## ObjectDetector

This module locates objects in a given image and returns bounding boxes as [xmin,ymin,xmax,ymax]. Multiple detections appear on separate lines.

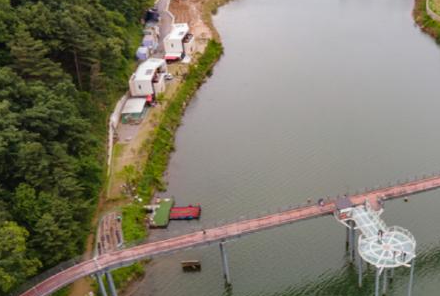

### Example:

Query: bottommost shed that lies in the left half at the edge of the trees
[118,97,148,123]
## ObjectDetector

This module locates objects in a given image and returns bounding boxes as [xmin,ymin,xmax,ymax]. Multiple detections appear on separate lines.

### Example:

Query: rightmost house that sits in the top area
[162,29,197,64]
